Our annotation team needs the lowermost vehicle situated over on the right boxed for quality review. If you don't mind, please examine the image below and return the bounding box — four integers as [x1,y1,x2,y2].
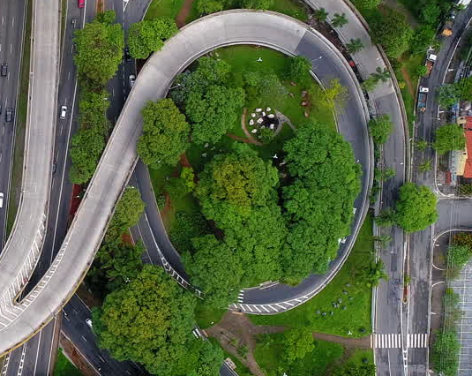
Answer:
[417,84,430,114]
